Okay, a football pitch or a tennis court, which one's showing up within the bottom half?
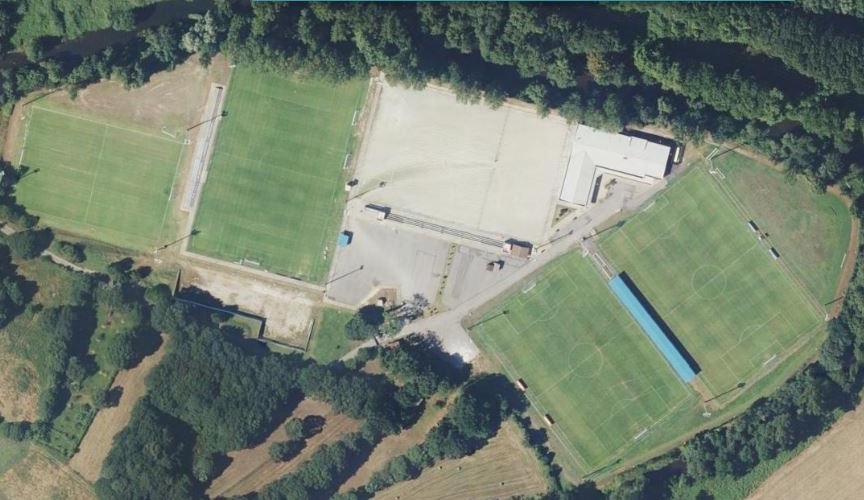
football pitch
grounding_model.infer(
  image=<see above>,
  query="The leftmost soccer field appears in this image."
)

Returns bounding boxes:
[5,101,191,249]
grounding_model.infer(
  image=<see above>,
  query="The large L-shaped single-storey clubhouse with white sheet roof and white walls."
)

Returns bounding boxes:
[559,123,671,206]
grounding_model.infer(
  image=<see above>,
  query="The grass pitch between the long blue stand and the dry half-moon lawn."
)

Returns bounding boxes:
[592,160,828,406]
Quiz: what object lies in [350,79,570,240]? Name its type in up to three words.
sports field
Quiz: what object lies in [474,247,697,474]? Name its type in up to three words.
soccer field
